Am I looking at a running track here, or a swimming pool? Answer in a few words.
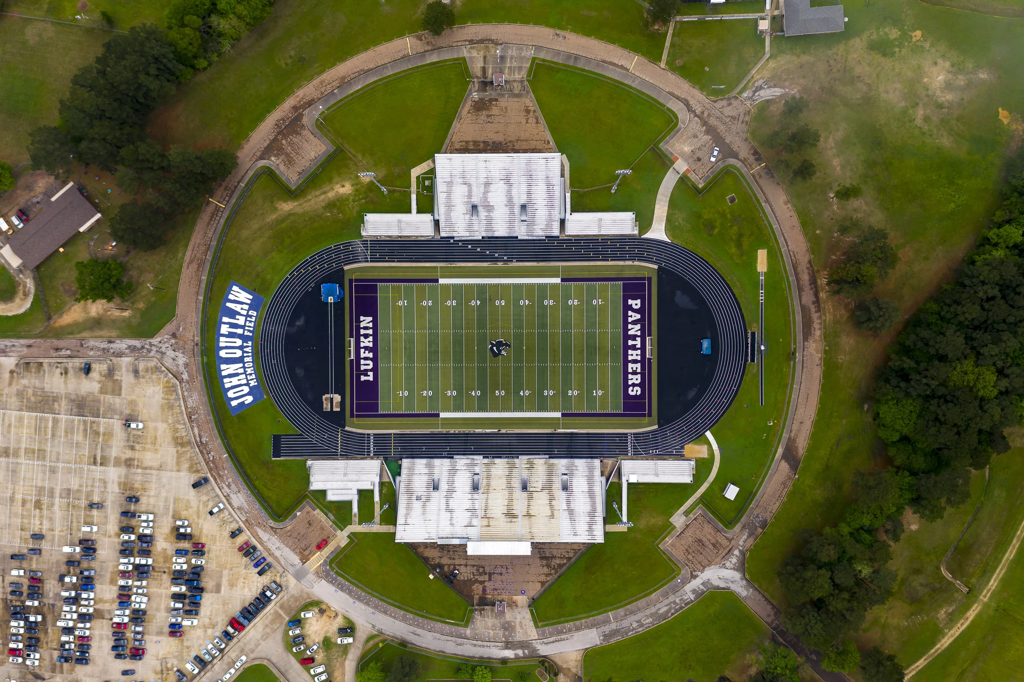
running track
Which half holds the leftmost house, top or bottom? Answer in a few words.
top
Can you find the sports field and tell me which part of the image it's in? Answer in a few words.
center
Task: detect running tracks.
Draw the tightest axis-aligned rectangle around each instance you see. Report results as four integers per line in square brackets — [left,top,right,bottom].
[259,236,746,459]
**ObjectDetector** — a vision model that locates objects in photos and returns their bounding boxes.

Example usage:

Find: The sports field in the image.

[343,262,657,433]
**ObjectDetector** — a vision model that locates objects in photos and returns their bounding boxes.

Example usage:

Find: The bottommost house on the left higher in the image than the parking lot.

[0,181,105,270]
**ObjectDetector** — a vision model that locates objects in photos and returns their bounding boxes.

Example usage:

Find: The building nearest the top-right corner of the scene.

[782,0,844,38]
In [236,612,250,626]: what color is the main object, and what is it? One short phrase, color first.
blue vehicle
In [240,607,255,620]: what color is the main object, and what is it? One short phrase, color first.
black vehicle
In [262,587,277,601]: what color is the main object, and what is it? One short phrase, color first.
white vehicle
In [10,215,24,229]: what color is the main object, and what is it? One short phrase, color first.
white vehicle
